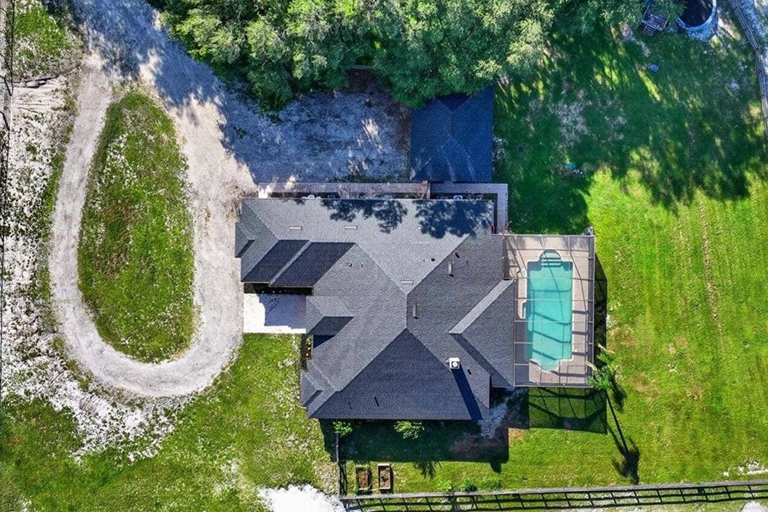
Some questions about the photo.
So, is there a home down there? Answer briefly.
Yes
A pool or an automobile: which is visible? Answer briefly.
pool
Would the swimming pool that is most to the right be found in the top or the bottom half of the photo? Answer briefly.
top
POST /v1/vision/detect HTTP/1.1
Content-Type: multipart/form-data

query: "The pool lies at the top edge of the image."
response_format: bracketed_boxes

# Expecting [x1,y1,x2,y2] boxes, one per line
[672,0,717,33]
